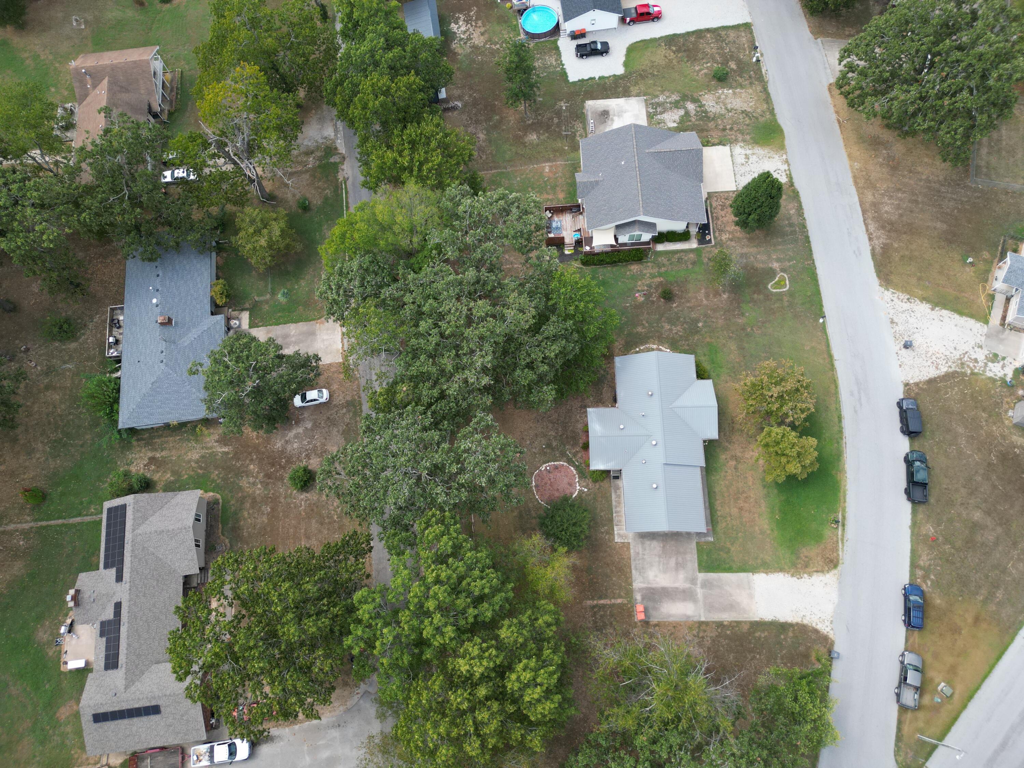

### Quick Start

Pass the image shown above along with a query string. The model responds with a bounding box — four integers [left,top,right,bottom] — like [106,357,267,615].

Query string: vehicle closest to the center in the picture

[292,388,331,408]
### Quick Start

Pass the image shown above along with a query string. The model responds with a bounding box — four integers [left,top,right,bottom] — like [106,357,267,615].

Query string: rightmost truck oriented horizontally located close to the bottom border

[190,738,254,768]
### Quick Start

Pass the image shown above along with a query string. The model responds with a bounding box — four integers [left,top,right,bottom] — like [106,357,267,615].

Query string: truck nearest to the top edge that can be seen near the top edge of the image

[621,4,663,26]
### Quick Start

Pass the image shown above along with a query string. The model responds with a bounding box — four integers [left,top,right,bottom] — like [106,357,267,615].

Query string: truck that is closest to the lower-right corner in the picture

[894,649,923,709]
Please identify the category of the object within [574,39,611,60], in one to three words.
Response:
truck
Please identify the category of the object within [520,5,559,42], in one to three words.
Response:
swimming pool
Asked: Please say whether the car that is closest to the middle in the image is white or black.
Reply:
white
